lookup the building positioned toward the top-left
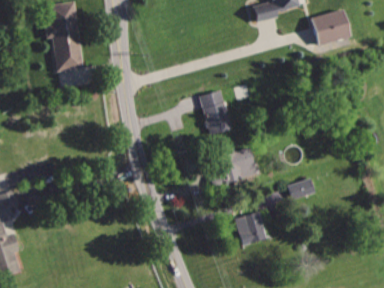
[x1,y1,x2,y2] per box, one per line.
[45,0,84,72]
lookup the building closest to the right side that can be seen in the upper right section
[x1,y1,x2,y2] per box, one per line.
[312,10,352,45]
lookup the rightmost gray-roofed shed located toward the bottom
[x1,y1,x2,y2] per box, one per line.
[288,179,315,200]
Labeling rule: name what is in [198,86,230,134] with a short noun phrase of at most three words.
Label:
house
